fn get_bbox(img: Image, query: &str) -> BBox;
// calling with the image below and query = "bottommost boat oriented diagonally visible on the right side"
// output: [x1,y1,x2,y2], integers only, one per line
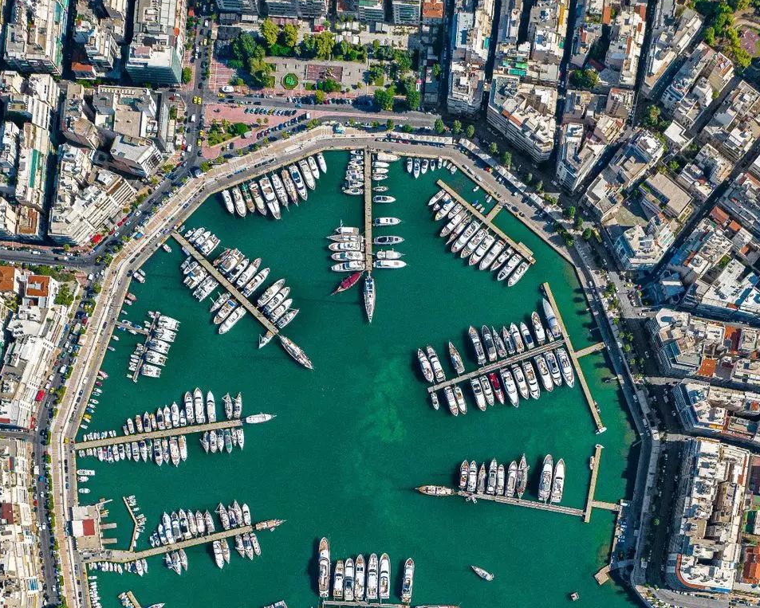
[472,565,494,580]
